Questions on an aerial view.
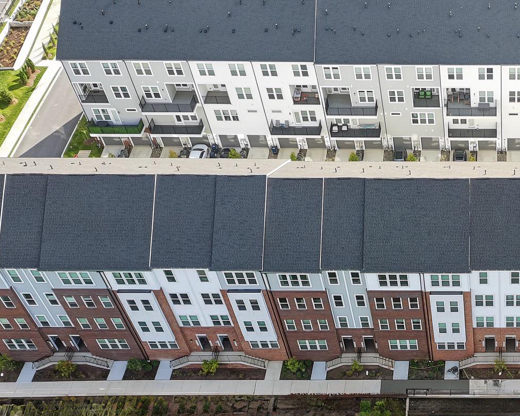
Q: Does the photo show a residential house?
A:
Yes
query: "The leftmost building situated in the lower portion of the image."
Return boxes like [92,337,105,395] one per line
[0,157,149,372]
